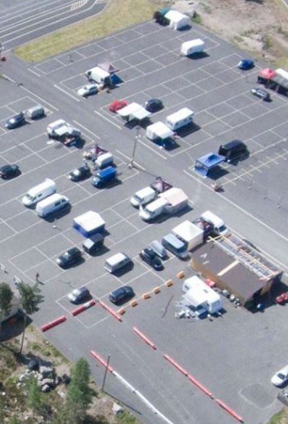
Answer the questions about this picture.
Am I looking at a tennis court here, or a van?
van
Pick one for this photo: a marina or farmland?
farmland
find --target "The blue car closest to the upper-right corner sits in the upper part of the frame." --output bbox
[236,58,257,72]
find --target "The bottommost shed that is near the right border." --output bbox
[185,228,288,311]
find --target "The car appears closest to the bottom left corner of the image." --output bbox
[64,285,96,304]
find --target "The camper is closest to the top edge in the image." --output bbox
[181,35,207,55]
